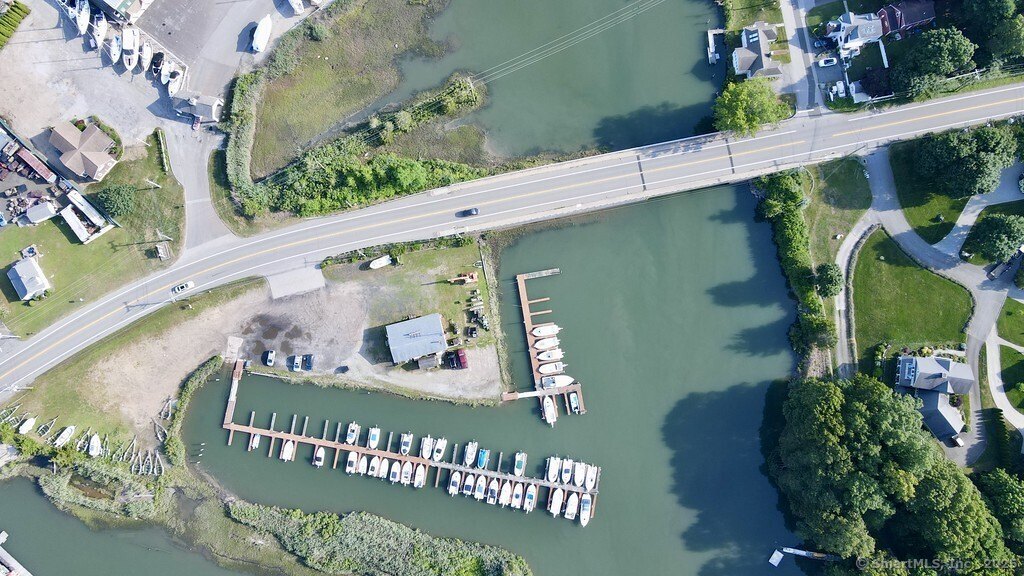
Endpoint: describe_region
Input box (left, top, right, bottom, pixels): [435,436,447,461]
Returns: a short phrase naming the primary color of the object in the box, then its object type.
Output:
white boat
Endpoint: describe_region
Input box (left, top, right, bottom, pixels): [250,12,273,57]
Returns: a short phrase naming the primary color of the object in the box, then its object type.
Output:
white boat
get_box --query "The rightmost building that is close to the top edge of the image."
[874,0,936,42]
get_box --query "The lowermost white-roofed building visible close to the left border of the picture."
[10,256,56,300]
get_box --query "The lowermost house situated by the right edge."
[892,352,974,441]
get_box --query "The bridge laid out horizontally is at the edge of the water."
[426,119,804,238]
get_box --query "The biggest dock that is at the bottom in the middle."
[220,357,602,520]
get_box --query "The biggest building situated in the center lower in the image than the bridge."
[384,311,450,362]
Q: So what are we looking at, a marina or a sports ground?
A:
marina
